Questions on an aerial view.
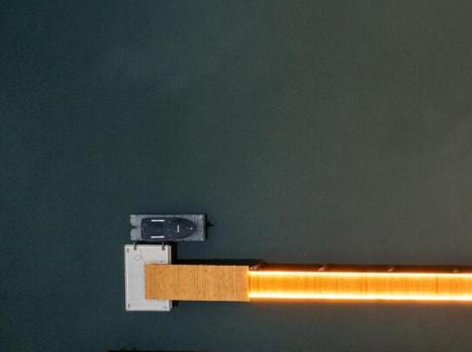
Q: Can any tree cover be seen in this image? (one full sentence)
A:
No, there's no tree cover in this view.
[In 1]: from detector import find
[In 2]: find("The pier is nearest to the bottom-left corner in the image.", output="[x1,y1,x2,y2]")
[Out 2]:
[126,243,175,311]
